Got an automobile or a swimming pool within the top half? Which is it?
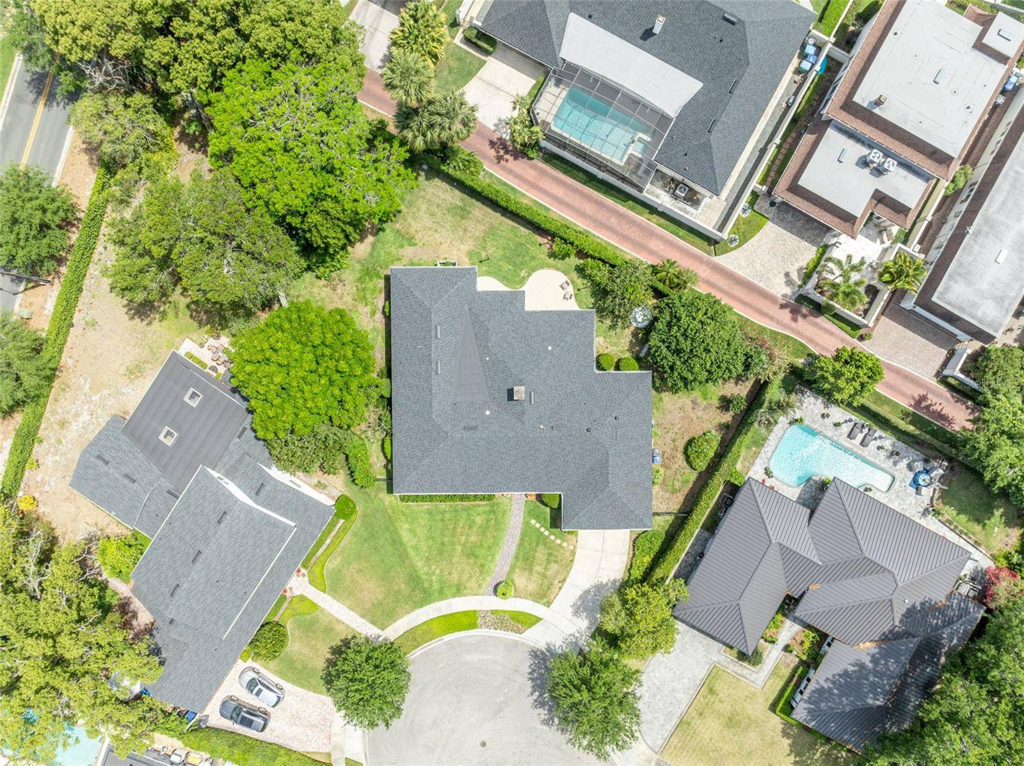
swimming pool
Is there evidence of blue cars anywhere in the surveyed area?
No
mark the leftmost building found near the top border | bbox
[473,0,817,196]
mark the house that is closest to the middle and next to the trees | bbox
[389,265,653,531]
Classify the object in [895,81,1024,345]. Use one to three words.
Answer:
house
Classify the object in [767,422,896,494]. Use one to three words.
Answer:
swimming pool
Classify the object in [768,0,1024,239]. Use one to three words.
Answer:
house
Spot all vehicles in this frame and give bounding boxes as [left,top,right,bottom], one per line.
[216,693,274,737]
[235,667,288,710]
